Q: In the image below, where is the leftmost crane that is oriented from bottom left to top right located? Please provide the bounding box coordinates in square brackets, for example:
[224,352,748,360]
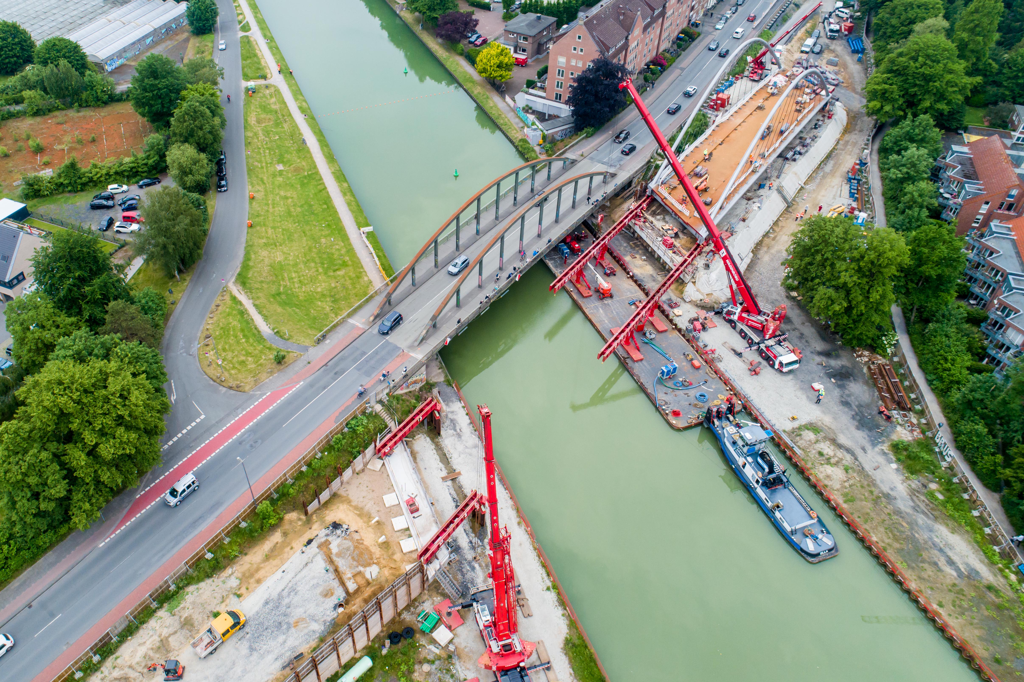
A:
[745,0,824,78]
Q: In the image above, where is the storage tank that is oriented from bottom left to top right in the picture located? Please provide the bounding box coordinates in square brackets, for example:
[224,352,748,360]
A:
[334,653,373,682]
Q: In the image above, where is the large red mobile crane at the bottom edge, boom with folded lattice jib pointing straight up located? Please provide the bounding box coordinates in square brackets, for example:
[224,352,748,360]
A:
[458,399,539,682]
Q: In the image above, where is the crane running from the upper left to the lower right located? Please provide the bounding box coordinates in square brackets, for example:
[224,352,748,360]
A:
[598,76,803,374]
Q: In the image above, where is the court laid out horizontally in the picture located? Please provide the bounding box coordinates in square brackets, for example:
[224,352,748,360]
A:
[0,103,152,180]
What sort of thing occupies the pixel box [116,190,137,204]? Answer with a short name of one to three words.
car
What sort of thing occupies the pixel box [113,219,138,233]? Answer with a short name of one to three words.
car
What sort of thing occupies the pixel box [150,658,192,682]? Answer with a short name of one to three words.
work vehicle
